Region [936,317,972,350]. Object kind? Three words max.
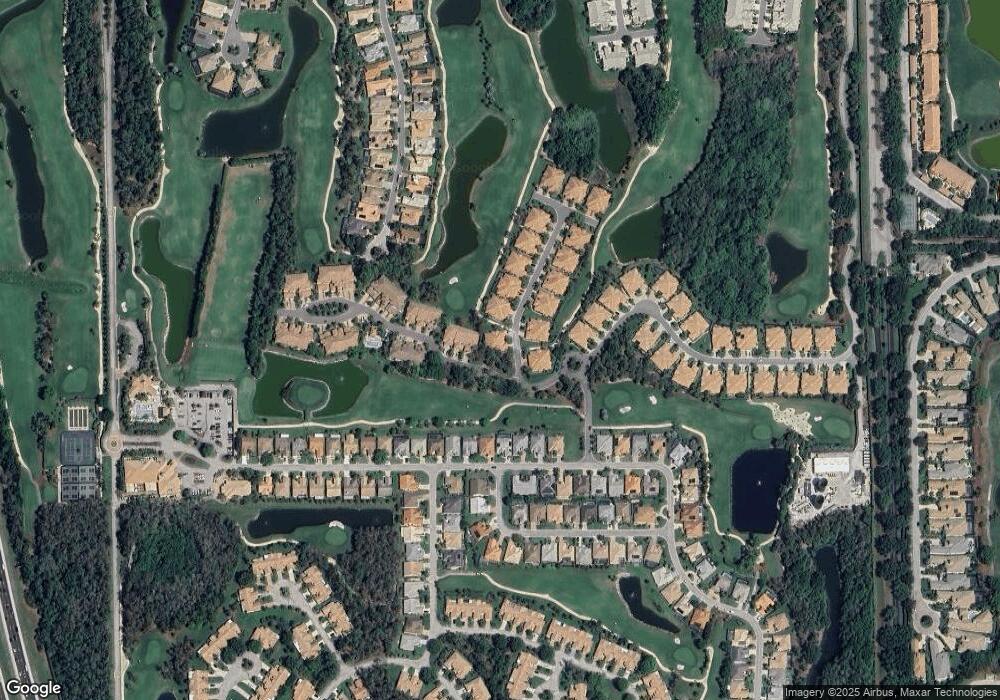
house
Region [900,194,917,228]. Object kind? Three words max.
tennis court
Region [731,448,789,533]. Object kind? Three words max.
pond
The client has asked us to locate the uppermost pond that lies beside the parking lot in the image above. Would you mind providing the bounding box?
[139,217,195,362]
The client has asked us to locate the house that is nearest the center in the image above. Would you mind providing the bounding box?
[483,330,508,350]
